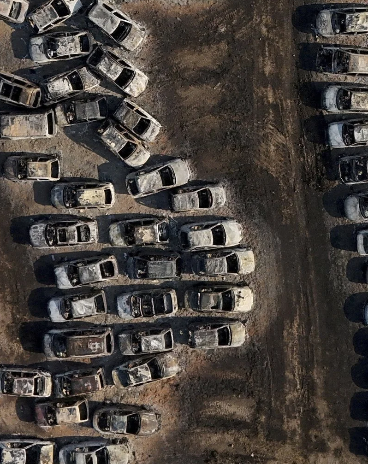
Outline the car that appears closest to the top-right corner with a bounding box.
[315,6,368,36]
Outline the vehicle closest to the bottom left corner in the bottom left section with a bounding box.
[0,438,59,464]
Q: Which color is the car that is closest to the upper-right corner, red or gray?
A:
gray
